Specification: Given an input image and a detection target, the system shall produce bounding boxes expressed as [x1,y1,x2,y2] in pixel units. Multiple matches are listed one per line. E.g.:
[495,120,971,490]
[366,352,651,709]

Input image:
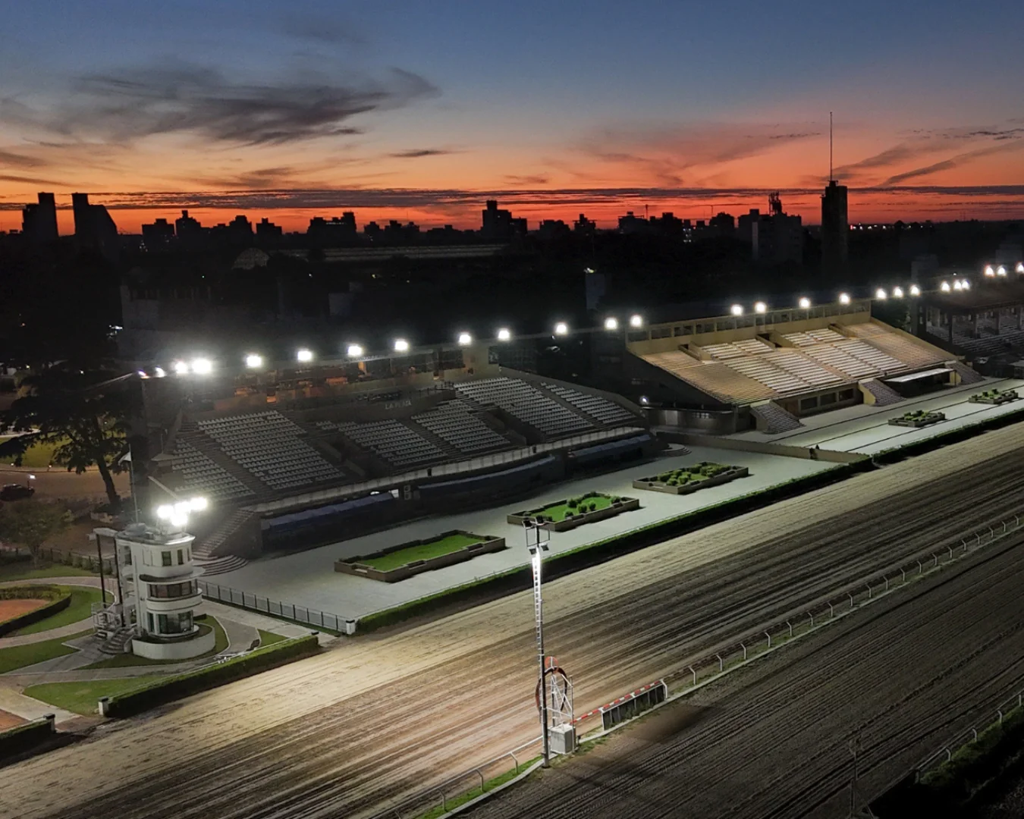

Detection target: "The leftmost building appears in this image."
[18,187,58,266]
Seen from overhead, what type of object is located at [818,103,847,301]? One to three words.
building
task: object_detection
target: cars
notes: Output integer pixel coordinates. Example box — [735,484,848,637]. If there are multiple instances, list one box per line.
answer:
[3,484,39,499]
